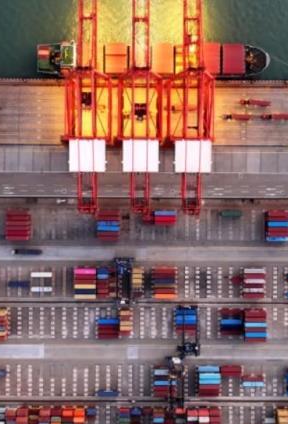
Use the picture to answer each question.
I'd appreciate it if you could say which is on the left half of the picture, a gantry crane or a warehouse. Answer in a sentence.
Looking on the left half of the picture, you will find a gantry crane.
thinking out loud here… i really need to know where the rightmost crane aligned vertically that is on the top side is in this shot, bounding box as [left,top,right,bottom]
[164,0,214,213]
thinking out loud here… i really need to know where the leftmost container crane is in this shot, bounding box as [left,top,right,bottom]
[67,0,117,213]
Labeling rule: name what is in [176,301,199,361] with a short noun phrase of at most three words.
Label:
crane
